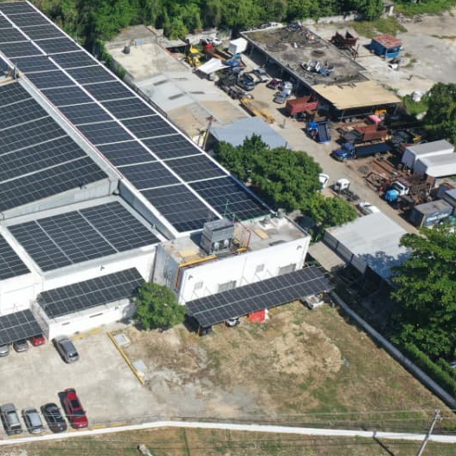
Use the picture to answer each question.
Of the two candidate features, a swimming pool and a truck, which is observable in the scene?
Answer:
truck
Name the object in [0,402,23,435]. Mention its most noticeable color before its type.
gray car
